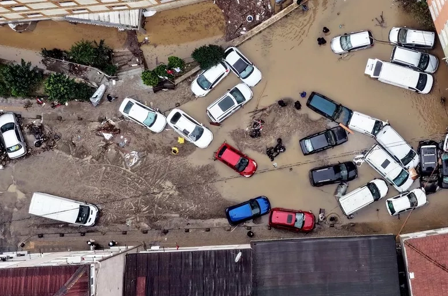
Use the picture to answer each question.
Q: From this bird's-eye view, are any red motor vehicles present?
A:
Yes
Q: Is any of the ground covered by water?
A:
Yes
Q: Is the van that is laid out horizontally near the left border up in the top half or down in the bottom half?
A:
bottom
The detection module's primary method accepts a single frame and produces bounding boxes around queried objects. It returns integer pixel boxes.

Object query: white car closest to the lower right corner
[381,186,432,219]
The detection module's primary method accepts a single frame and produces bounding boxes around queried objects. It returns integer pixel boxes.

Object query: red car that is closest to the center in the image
[214,140,258,179]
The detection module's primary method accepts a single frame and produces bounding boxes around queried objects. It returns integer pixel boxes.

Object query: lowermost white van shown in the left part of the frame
[21,192,100,227]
